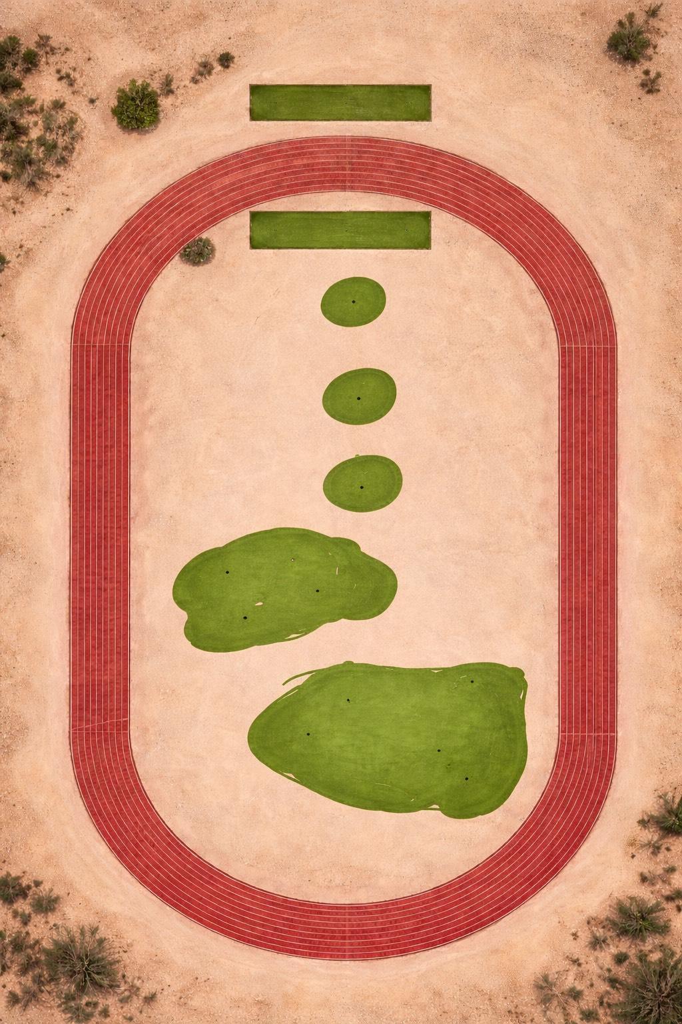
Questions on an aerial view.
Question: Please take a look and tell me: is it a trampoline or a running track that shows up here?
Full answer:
The one in the frame is a running track.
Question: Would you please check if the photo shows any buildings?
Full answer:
No, there is no building in the image.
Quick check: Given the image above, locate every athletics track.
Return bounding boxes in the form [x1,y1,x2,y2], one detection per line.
[70,136,618,961]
